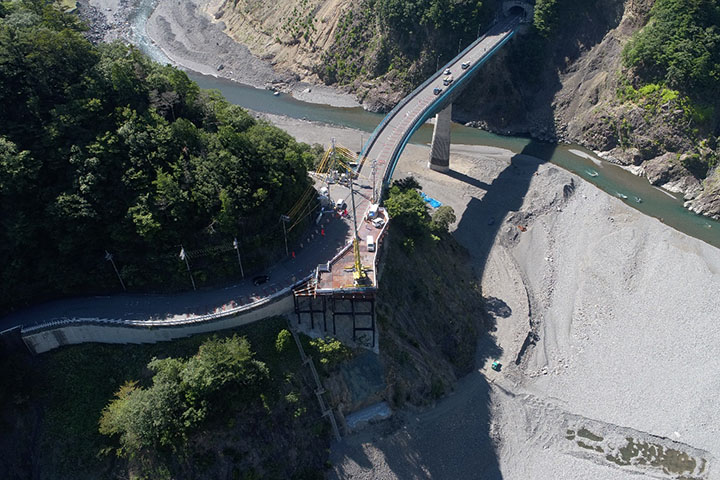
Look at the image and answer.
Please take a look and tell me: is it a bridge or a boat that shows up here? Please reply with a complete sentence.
There is a bridge in the scene.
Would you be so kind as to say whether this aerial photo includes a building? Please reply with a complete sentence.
No, there appears to be no building in this shot.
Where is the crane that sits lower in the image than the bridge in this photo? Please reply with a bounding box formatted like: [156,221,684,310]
[341,232,375,288]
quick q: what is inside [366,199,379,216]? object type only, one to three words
vehicle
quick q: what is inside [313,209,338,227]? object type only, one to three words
vehicle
